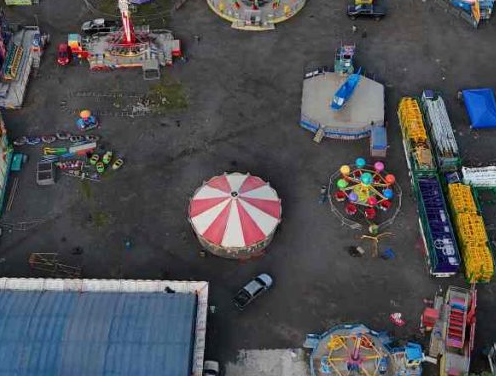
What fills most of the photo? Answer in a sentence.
For the most part, this view shows paved ground.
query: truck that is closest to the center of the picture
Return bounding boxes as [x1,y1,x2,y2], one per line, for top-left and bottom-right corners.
[231,271,274,310]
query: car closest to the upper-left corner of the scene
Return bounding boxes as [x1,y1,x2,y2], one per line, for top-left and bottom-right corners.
[54,40,69,62]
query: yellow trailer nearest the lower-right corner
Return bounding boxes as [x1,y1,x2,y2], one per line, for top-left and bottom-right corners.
[442,164,496,284]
